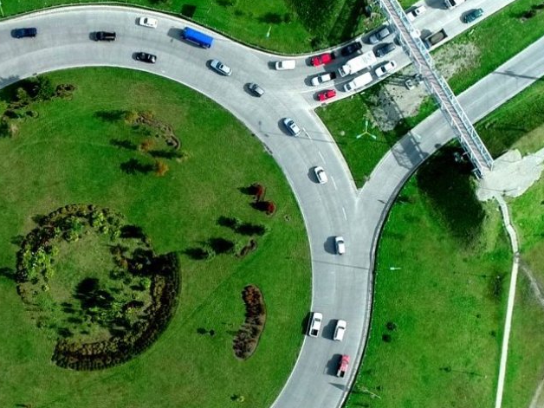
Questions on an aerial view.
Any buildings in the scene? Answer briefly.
No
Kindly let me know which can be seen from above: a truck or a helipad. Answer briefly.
truck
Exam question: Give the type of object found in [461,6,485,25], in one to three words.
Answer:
car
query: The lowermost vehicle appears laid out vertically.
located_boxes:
[337,353,350,377]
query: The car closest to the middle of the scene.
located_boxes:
[314,165,328,185]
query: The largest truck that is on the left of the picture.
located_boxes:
[181,27,216,48]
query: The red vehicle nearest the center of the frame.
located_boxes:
[316,89,338,102]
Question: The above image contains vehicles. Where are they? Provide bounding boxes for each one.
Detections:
[314,165,328,185]
[404,4,428,23]
[316,89,338,102]
[311,53,334,67]
[138,16,157,28]
[309,311,320,337]
[337,353,350,377]
[95,31,116,41]
[210,59,232,77]
[377,41,397,57]
[181,27,216,48]
[14,27,38,38]
[284,117,299,136]
[342,69,376,94]
[420,27,453,52]
[337,47,382,79]
[374,61,397,78]
[461,6,485,25]
[246,82,264,97]
[333,319,345,341]
[368,26,391,44]
[311,71,334,86]
[334,235,344,254]
[341,41,363,57]
[135,53,157,63]
[275,59,297,71]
